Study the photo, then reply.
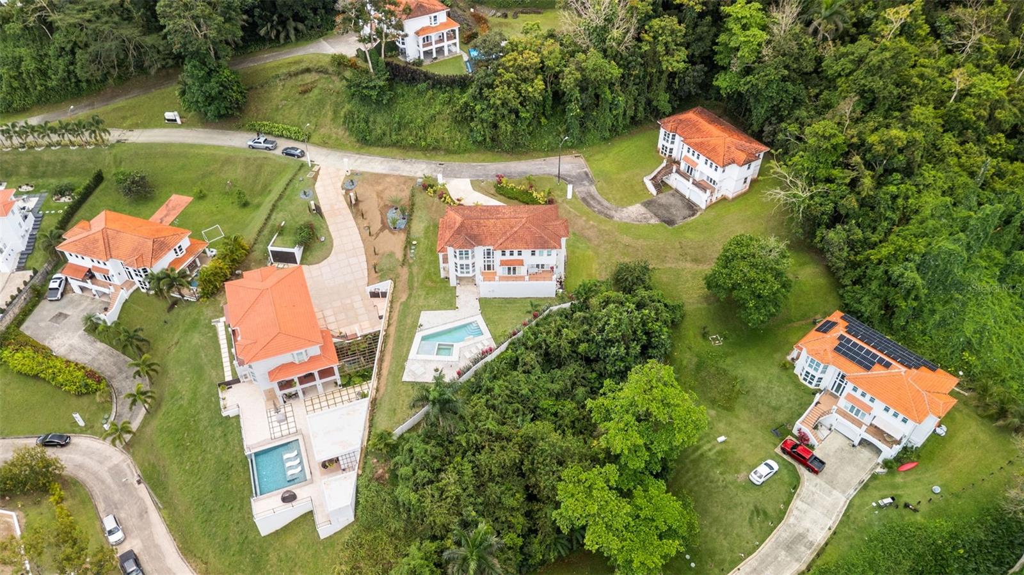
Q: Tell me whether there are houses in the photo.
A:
Yes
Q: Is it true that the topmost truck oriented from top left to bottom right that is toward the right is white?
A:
No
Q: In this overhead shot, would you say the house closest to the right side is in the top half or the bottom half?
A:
bottom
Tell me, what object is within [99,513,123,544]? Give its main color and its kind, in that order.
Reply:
white car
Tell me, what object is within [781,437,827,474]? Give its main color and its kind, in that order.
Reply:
red truck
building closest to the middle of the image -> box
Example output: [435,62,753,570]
[439,205,570,299]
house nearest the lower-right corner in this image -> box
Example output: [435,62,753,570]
[786,310,958,465]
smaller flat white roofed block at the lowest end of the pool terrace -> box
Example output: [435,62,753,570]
[322,471,356,536]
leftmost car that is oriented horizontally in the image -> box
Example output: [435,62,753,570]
[32,431,69,448]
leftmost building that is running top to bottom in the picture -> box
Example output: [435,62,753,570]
[0,187,42,278]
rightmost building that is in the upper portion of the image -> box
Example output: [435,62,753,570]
[652,107,769,207]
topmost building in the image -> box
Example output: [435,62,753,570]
[359,0,463,61]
